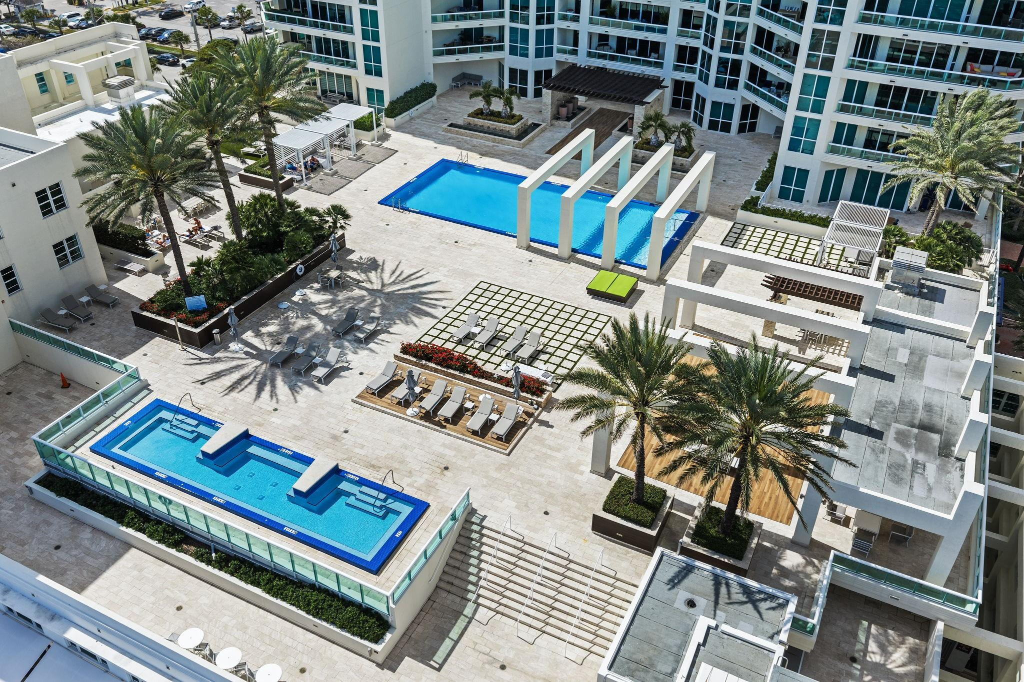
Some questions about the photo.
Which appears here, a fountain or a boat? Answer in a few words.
fountain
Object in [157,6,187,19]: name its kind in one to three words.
vehicle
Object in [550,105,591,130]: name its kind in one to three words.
fountain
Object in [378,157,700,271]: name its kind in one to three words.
swimming pool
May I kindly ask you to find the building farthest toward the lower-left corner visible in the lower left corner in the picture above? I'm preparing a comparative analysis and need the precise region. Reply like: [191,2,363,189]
[0,570,216,682]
